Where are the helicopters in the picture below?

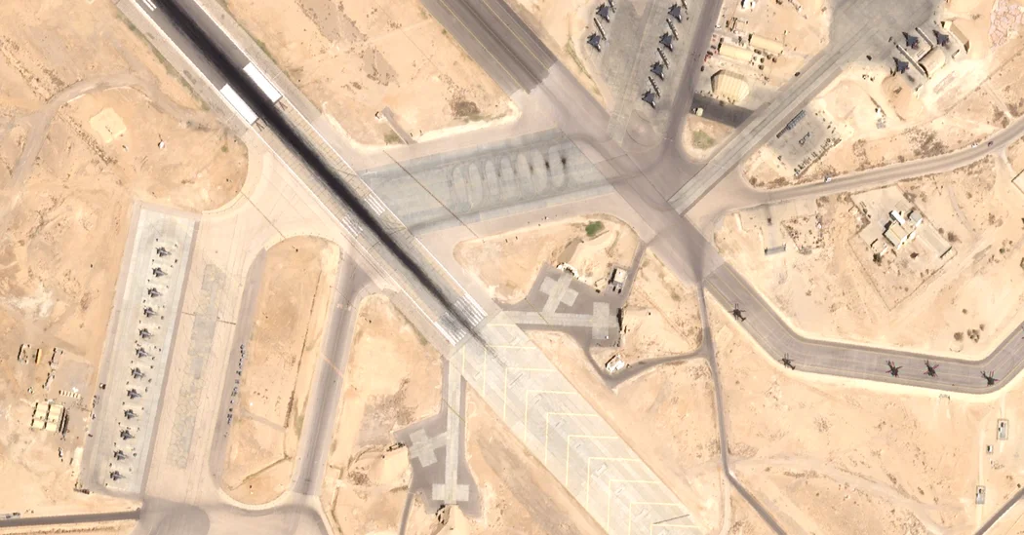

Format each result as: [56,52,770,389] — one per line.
[888,361,902,377]
[924,360,937,376]
[779,357,795,369]
[729,307,746,319]
[983,371,999,387]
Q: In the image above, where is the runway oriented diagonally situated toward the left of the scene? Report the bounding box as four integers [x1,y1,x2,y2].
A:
[134,0,501,360]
